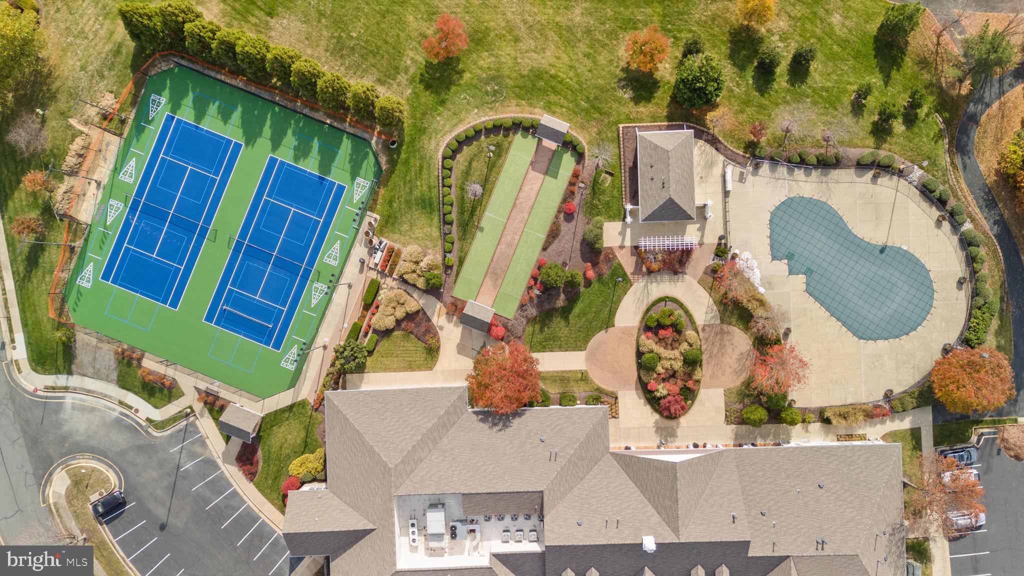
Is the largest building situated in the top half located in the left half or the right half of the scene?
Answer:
right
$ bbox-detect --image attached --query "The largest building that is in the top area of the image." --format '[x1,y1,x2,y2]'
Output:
[637,130,696,223]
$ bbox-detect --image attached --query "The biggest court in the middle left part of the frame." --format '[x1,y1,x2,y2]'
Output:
[63,65,379,399]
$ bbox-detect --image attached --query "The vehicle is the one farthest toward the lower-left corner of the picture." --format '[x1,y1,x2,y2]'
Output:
[91,489,128,519]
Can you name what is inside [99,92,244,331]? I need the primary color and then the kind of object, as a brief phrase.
blue tennis court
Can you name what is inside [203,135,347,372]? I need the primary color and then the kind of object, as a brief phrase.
blue tennis court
